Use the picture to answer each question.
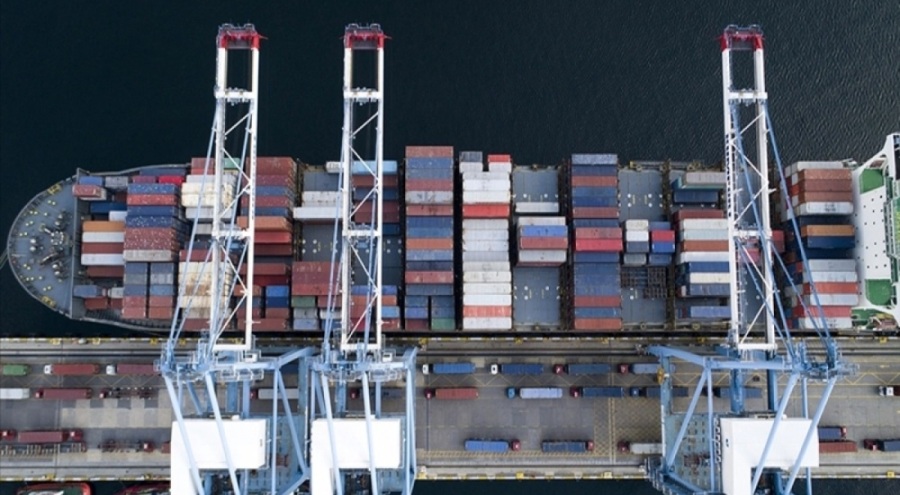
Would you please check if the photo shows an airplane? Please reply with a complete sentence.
No, there's no airplane here.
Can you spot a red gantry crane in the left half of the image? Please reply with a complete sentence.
No, no red gantry crane can be made out in the left half of the image.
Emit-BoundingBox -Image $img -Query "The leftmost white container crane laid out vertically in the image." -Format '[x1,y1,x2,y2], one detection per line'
[151,21,326,495]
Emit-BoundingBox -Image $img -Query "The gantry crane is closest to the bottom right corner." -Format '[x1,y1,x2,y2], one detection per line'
[636,22,850,495]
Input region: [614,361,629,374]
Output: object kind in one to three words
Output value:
vehicle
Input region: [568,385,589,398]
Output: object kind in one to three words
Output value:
vehicle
